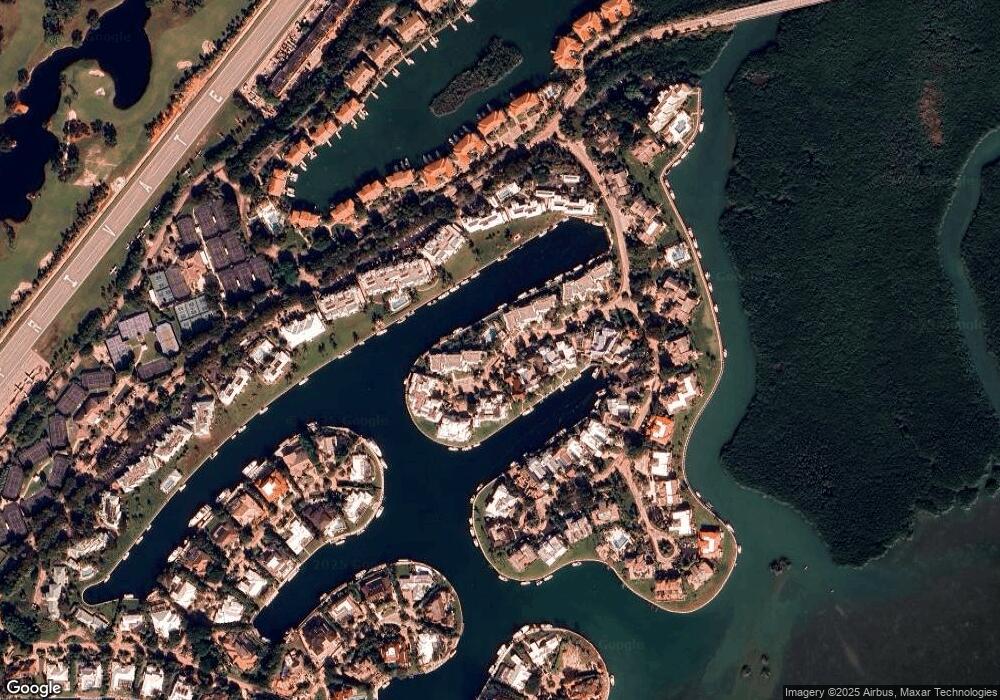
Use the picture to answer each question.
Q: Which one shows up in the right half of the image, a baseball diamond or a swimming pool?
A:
swimming pool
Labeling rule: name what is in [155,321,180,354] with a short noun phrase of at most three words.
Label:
sports court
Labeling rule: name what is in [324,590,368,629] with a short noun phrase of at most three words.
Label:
house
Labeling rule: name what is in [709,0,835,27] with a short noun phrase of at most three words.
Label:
bridge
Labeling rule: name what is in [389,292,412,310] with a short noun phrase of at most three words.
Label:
swimming pool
